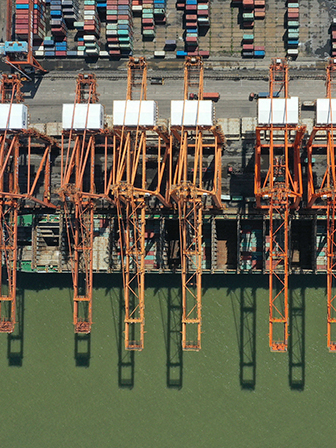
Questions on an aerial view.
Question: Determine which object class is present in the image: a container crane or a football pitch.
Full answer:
The image shows a container crane.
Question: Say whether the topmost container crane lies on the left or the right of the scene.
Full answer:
The topmost container crane is on the left side of the image.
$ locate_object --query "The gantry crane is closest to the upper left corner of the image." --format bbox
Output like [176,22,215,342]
[0,0,55,74]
